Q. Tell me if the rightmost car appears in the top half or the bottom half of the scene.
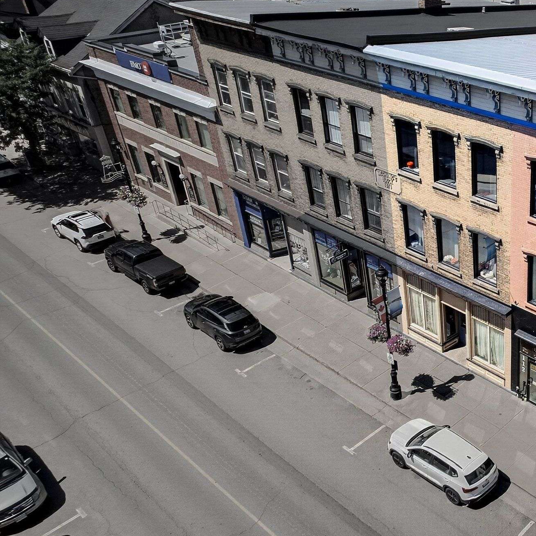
bottom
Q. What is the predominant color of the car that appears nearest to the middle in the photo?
black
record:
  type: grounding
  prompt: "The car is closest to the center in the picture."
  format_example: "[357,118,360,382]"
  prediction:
[182,296,263,352]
